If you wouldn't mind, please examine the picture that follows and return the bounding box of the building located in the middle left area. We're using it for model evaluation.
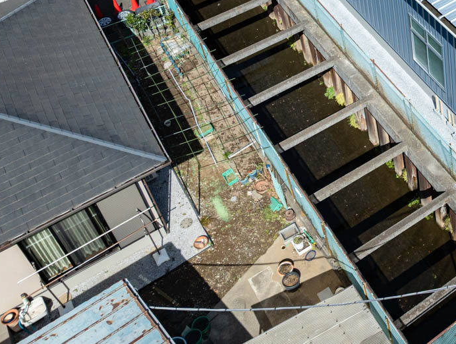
[0,0,195,336]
